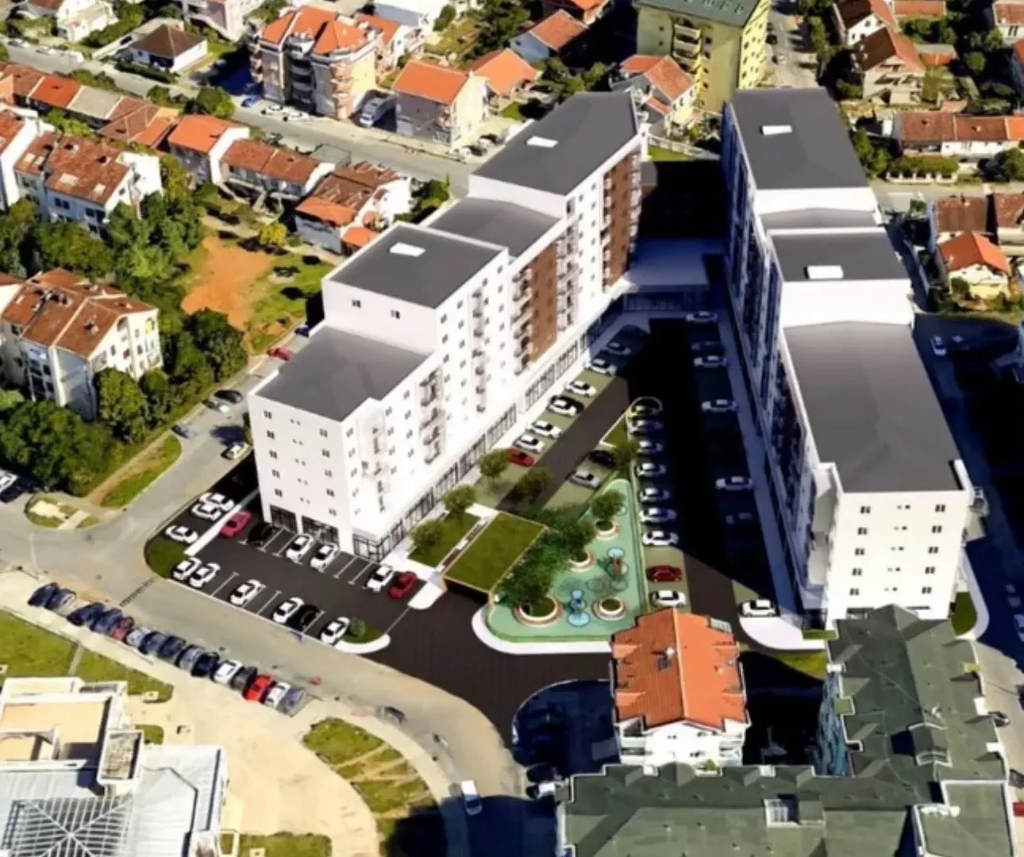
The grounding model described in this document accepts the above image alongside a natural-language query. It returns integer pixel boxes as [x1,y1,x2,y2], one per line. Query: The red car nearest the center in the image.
[504,448,537,467]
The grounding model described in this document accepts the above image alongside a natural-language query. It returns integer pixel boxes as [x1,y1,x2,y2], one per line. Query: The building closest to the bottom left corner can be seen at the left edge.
[0,680,229,857]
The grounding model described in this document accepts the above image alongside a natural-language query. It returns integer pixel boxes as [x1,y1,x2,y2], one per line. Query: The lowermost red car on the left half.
[241,674,274,700]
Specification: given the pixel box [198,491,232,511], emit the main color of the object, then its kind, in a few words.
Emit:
white car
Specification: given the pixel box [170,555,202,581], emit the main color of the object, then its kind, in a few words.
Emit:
white car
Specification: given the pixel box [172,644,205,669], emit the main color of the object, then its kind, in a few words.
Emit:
gray car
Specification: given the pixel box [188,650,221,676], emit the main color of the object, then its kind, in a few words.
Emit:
black car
